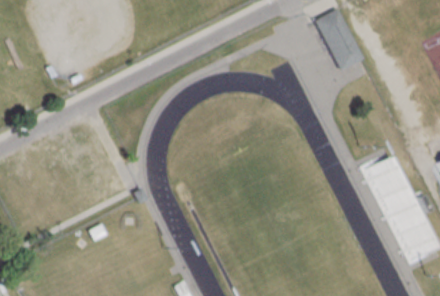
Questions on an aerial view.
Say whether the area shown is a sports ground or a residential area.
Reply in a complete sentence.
This image shows a sports ground.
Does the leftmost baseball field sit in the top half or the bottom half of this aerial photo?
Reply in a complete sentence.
The leftmost baseball field sits in the top half of the picture.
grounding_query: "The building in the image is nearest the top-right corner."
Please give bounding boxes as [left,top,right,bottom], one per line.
[314,9,364,68]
